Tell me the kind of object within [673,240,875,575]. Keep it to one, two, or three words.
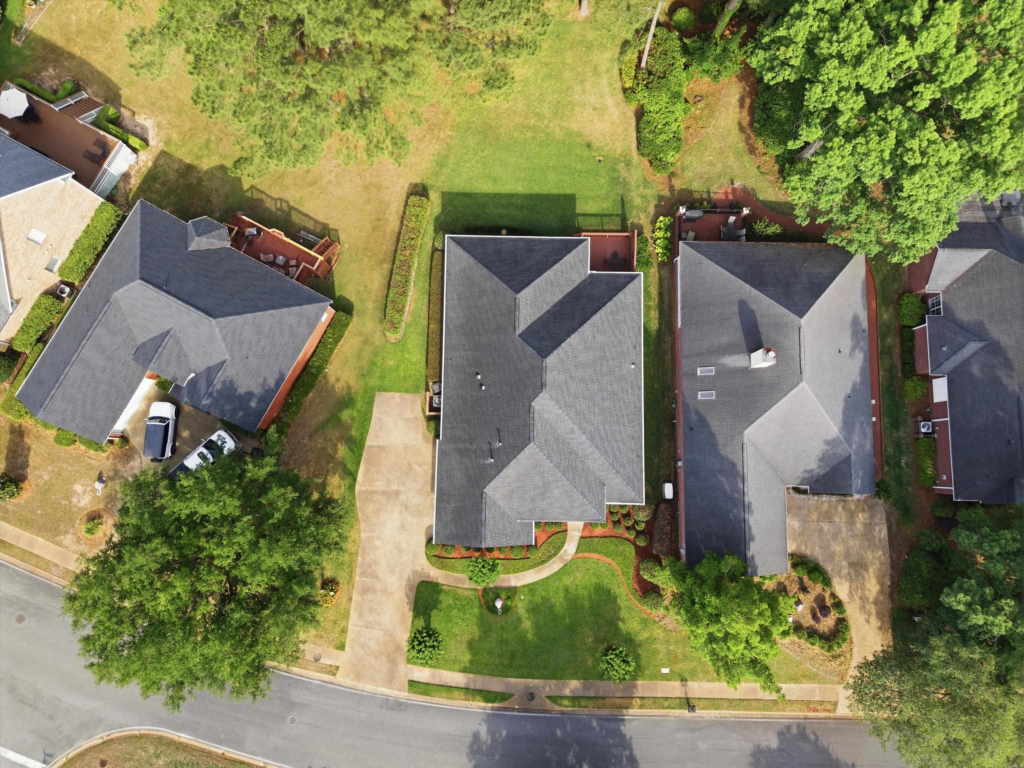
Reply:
house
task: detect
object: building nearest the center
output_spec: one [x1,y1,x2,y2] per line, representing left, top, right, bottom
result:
[432,234,645,548]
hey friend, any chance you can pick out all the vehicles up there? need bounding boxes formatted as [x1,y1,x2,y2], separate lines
[144,398,181,460]
[164,424,241,489]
